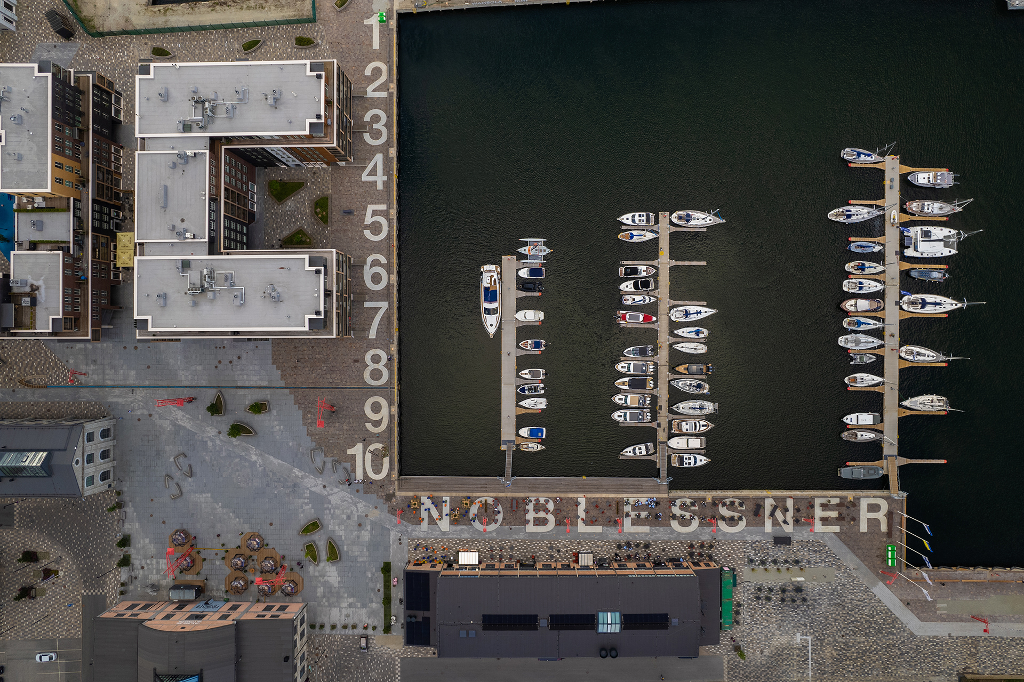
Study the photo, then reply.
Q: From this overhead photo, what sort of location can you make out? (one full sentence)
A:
This looks like a port.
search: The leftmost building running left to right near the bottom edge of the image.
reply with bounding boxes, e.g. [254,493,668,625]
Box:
[92,593,308,682]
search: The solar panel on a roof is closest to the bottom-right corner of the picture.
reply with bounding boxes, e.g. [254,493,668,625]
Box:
[622,615,669,631]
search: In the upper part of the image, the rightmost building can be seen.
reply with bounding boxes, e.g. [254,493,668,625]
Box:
[133,58,358,339]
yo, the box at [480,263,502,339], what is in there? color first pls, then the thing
white boat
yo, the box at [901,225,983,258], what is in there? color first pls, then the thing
white boat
